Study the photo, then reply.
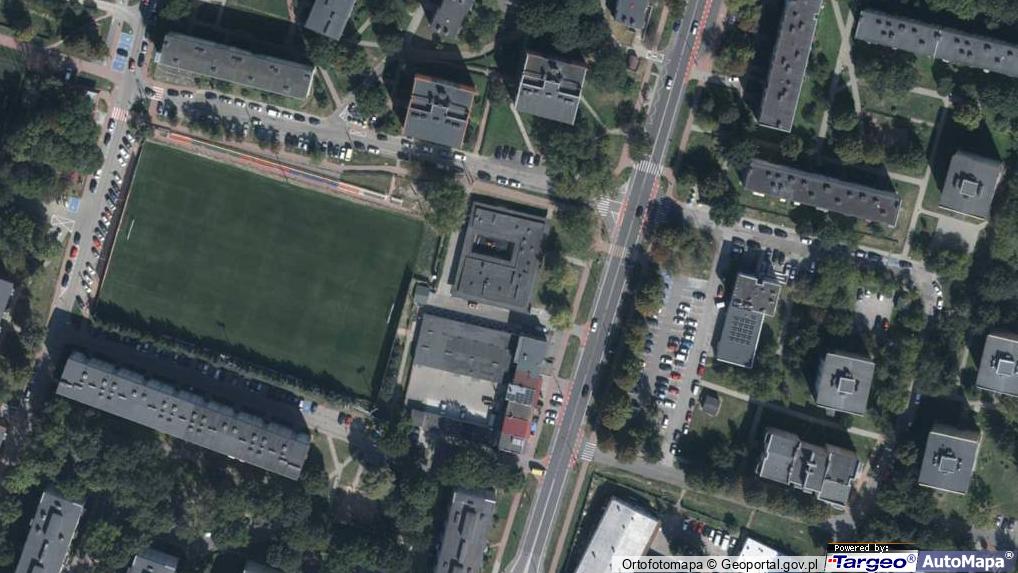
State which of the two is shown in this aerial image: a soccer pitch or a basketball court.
soccer pitch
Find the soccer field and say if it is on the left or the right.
left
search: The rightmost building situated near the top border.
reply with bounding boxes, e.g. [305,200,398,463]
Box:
[855,7,1018,77]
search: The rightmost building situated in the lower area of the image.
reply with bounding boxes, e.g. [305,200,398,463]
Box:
[977,328,1018,397]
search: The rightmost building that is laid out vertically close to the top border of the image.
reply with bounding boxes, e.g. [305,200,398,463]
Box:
[757,0,824,132]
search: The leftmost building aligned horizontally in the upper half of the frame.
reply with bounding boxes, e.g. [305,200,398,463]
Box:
[155,31,319,98]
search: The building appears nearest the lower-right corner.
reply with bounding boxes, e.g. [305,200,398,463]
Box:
[919,426,979,494]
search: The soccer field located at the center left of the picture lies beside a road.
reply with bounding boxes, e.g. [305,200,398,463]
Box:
[91,139,424,402]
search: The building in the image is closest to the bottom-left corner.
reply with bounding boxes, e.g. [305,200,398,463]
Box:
[13,487,89,573]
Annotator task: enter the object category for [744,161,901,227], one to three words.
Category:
building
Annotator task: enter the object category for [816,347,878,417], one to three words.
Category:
building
